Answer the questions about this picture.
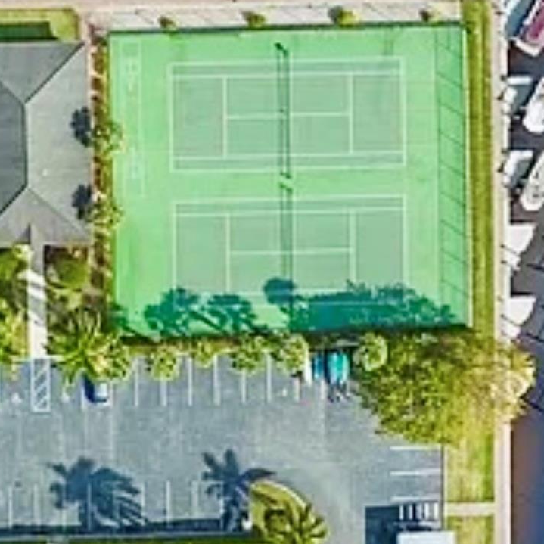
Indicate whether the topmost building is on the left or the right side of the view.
left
